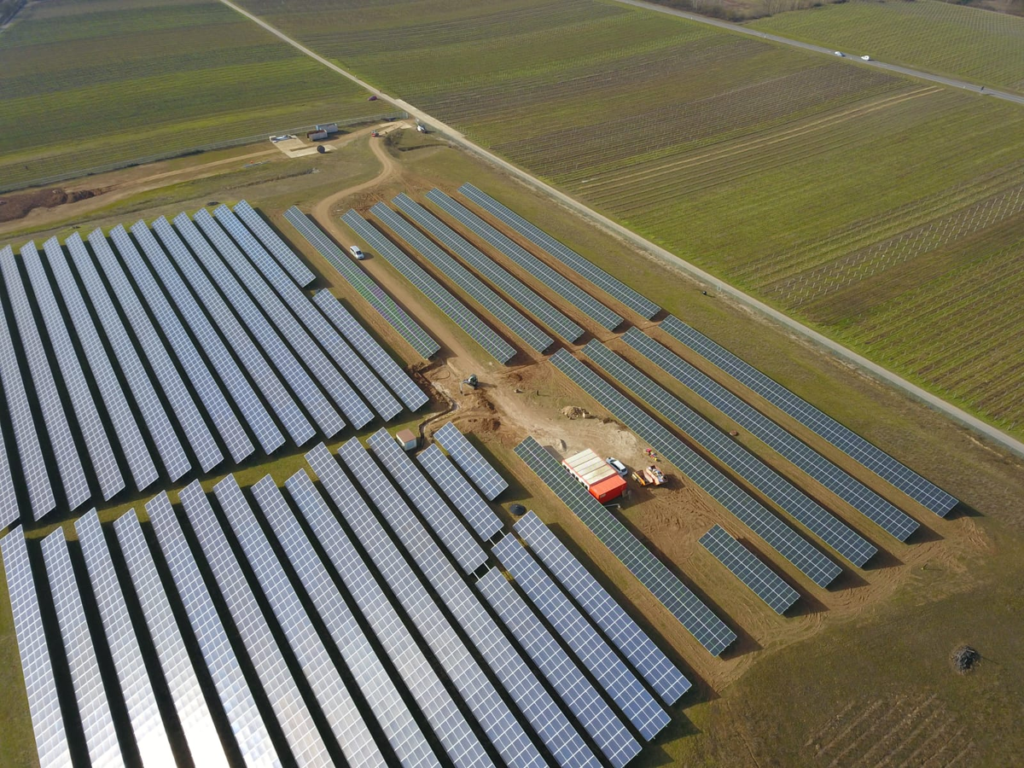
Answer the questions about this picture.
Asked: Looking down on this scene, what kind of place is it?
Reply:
solar farm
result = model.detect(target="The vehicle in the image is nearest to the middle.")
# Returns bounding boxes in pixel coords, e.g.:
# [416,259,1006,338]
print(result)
[462,376,480,398]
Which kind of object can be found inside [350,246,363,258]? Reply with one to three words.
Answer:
vehicle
